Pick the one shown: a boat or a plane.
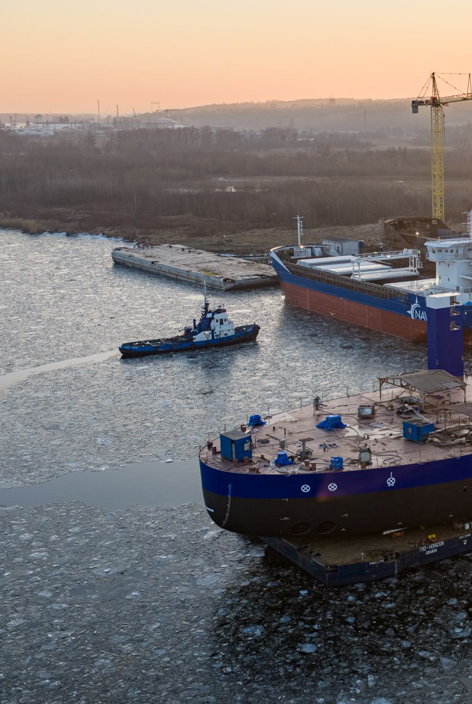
boat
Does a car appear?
No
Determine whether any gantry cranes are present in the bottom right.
No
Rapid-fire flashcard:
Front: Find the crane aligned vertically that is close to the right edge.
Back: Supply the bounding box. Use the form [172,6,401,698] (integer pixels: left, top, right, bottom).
[413,73,472,213]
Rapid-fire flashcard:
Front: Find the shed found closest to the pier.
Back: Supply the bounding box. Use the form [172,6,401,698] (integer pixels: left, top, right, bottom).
[326,238,360,255]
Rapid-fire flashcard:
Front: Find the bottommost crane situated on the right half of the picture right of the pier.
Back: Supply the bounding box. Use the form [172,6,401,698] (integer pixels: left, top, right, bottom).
[346,247,410,282]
